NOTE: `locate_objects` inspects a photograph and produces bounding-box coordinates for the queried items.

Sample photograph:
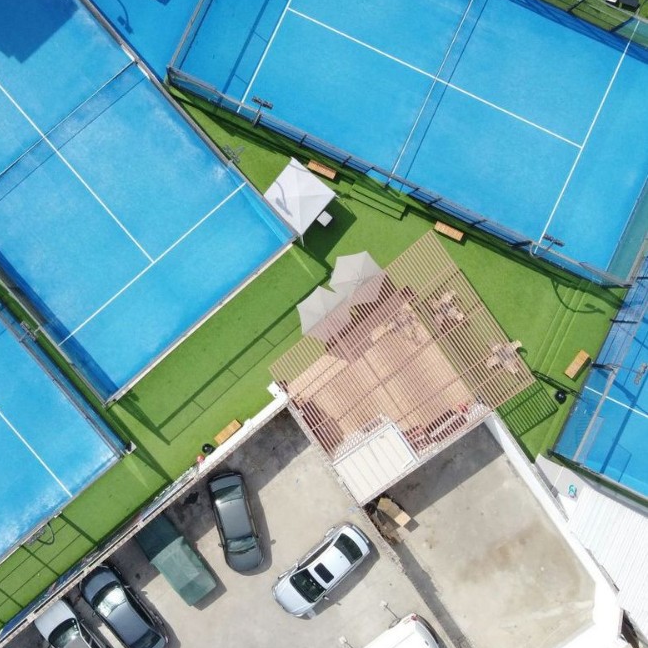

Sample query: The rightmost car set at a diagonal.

[275,522,373,616]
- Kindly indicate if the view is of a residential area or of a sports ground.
sports ground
